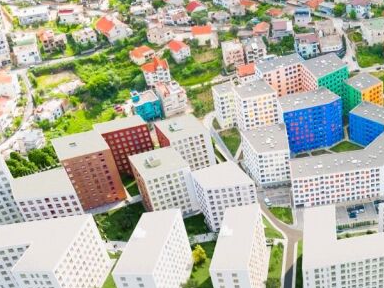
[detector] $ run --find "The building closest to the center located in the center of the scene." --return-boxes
[154,114,212,175]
